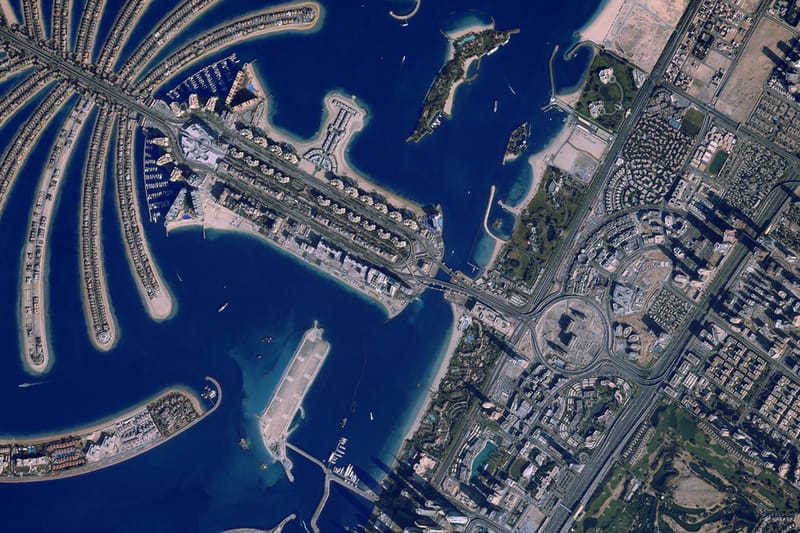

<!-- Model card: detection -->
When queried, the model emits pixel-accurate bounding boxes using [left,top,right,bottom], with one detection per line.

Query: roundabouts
[530,293,616,377]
